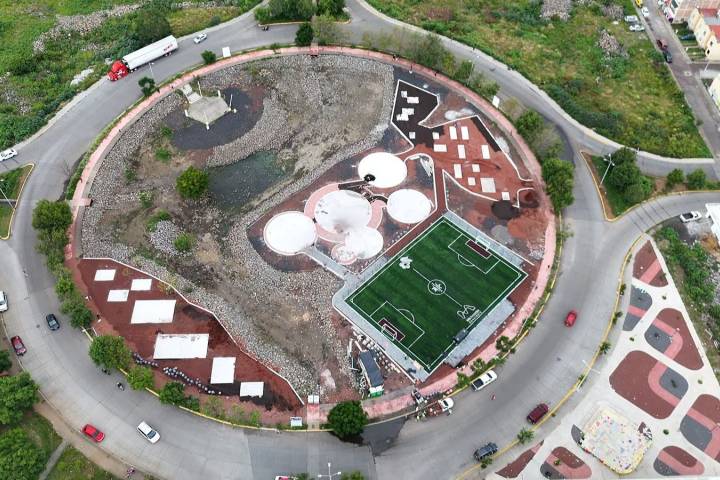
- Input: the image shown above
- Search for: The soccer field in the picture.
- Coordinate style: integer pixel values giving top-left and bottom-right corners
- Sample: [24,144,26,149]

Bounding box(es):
[345,214,529,373]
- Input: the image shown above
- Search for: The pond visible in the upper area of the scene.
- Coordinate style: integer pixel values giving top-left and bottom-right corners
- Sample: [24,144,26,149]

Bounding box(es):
[205,149,290,216]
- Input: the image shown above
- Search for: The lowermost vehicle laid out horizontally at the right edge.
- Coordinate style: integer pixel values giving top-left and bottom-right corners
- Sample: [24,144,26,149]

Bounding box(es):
[679,209,703,223]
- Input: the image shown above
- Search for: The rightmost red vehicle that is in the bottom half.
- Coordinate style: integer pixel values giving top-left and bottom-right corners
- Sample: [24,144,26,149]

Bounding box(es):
[562,309,578,328]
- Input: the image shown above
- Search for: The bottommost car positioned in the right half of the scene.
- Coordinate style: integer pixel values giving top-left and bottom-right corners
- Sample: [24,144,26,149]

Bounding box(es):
[471,439,501,462]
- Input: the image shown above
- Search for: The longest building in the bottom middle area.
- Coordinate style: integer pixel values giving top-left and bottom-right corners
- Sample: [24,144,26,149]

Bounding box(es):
[359,351,383,388]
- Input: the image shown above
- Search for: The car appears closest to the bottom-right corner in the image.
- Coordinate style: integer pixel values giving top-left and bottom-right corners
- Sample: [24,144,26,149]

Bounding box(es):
[525,401,551,424]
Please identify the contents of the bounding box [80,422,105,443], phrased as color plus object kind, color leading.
red car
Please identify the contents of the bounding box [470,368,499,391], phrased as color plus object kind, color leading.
white truck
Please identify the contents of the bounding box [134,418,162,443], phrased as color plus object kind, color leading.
white car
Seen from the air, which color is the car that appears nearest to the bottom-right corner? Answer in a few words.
red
